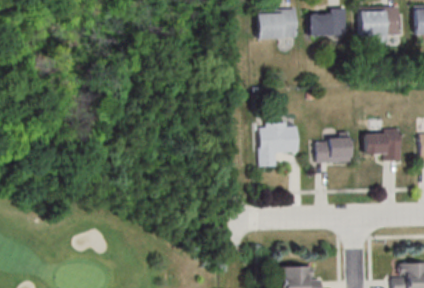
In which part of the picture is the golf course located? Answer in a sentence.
The golf course is in the bottom left part of the image.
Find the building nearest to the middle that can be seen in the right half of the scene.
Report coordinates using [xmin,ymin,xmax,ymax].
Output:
[258,122,300,167]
